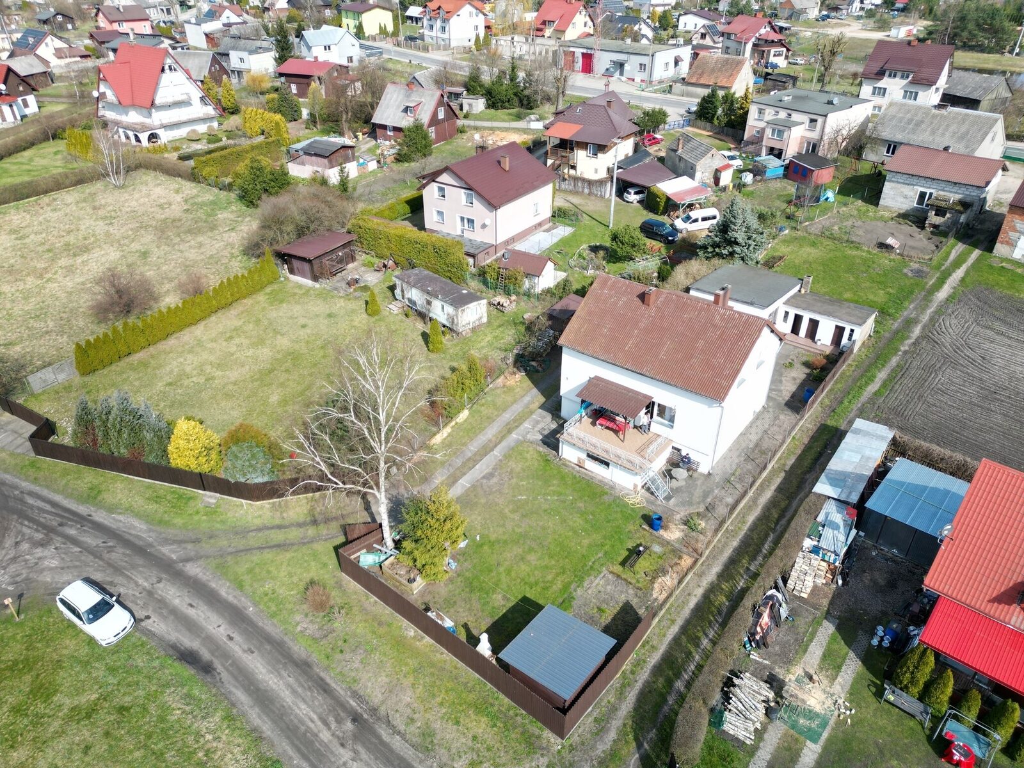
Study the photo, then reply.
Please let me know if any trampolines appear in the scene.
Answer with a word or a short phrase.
Yes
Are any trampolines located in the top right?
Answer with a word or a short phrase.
Yes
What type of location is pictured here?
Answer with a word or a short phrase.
residential area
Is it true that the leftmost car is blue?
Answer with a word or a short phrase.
No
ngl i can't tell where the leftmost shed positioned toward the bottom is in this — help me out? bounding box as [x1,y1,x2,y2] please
[499,599,618,716]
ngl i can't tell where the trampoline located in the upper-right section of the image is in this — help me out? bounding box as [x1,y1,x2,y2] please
[796,183,824,209]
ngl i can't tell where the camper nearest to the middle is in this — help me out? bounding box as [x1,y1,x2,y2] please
[393,266,487,332]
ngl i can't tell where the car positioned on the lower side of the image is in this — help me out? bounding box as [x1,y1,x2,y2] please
[53,572,137,642]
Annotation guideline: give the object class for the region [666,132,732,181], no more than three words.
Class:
building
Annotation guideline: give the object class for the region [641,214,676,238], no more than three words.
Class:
car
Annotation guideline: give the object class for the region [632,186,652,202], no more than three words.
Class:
car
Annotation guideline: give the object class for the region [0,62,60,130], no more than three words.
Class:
house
